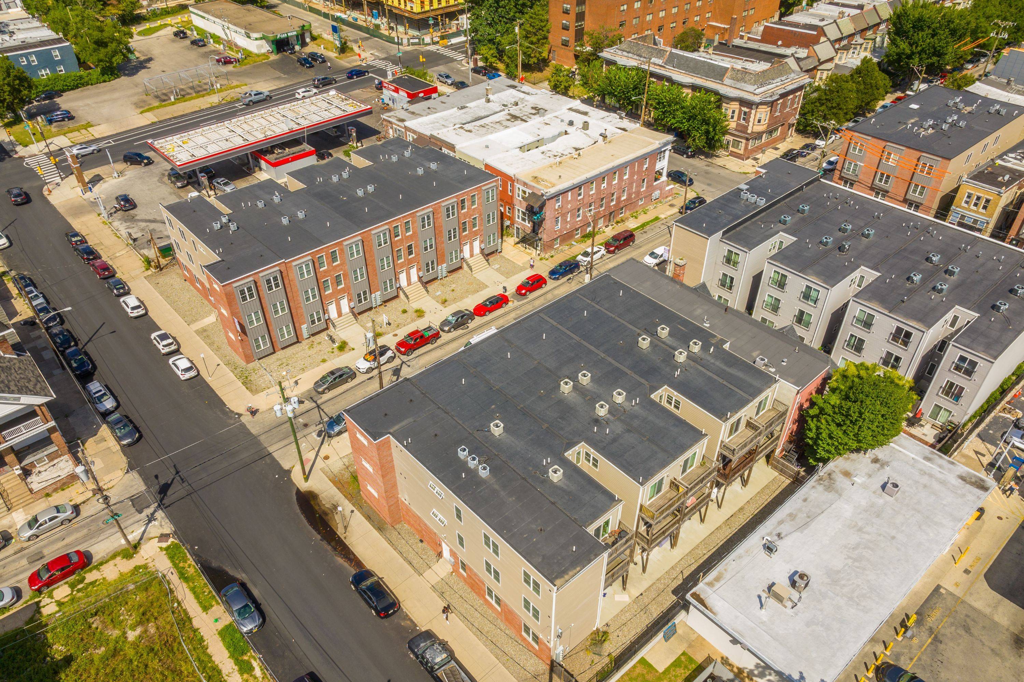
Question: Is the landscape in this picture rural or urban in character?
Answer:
urban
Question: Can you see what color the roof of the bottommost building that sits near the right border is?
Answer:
white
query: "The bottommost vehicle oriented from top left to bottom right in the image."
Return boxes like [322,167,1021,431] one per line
[406,627,472,682]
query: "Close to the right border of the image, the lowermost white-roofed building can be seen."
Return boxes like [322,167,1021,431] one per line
[678,431,1002,682]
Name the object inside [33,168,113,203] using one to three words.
gas station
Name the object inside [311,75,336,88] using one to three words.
vehicle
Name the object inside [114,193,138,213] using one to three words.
car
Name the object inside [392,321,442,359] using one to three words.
truck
